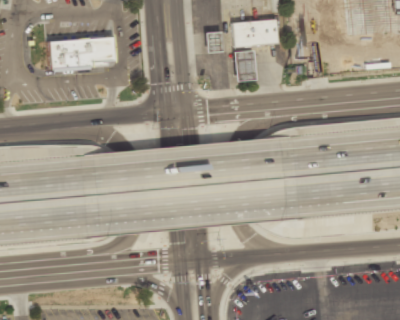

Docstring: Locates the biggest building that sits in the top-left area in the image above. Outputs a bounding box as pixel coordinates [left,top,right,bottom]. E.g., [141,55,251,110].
[50,36,118,72]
